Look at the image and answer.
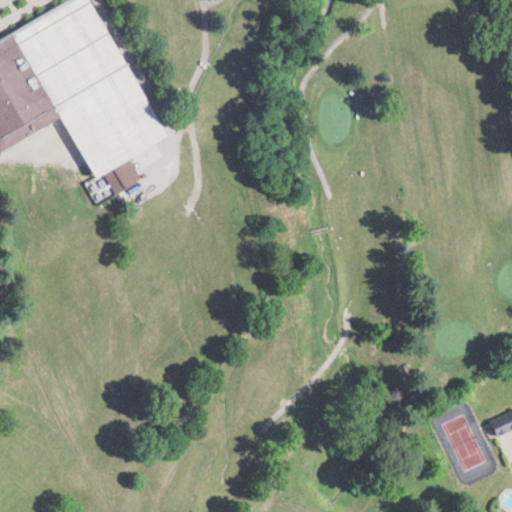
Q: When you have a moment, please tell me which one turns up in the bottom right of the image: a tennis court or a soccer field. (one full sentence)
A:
The one visible in the bottom right of the image is a tennis court.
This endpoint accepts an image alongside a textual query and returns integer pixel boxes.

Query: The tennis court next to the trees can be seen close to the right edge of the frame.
[434,404,496,485]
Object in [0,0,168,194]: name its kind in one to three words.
building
